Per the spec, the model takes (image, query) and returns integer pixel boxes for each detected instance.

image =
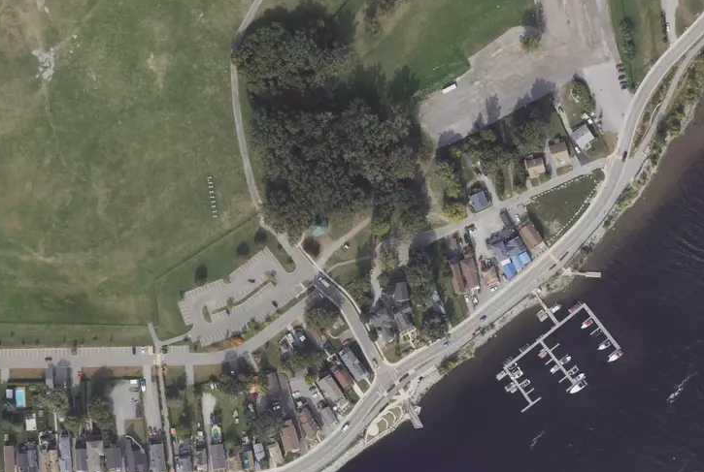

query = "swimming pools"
[212,427,221,441]
[15,387,26,408]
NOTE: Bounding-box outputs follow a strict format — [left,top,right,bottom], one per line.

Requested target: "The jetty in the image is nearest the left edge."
[405,397,423,429]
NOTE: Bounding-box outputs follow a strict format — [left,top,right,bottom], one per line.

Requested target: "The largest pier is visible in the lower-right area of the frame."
[502,301,621,413]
